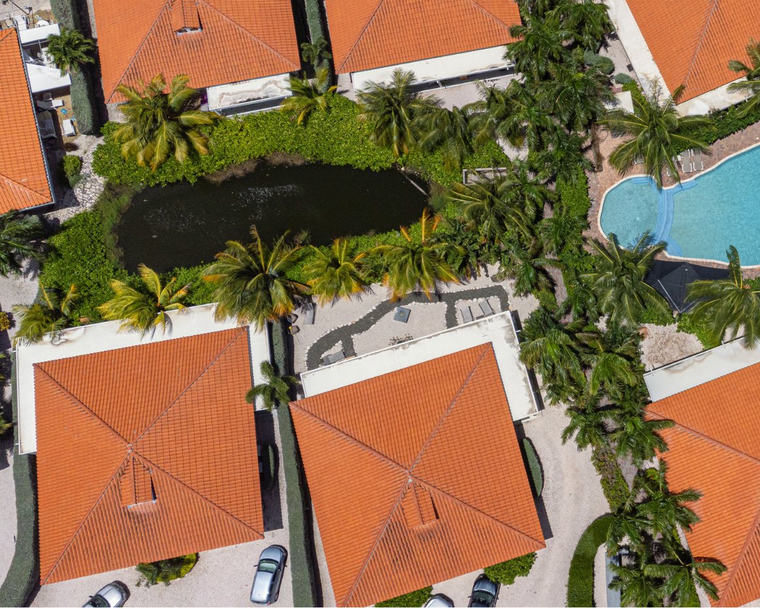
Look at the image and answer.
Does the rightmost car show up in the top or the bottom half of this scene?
bottom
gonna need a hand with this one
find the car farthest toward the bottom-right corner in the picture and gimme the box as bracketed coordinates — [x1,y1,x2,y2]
[465,572,496,608]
